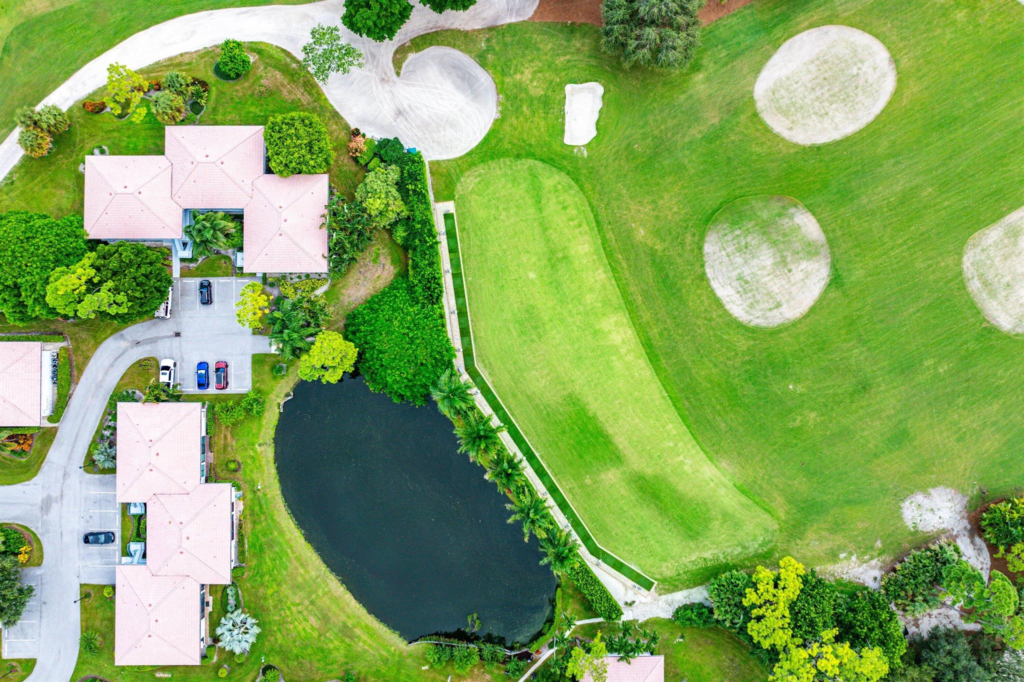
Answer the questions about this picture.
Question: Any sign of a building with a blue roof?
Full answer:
No, the photo shows no building with a blue roof.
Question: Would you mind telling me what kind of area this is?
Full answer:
This looks like a golf course.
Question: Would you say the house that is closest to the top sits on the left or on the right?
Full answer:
You can find the house that is closest to the top on the left side of the picture.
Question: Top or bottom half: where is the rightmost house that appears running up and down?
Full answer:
The rightmost house that appears running up and down is in the bottom half of the image.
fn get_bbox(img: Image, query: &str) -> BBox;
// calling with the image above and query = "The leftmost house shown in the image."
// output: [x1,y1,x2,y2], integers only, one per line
[0,341,53,427]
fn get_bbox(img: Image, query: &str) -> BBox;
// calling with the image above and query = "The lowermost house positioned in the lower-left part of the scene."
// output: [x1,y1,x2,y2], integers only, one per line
[114,402,235,666]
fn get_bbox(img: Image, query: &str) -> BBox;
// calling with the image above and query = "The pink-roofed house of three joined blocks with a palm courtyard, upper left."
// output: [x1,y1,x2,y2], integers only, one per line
[83,125,332,273]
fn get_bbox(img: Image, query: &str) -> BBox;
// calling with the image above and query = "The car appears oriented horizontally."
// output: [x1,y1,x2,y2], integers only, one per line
[85,531,116,545]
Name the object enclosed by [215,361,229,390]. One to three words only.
car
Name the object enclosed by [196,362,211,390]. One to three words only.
car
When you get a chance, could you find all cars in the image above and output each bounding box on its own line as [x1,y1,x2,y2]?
[196,362,211,390]
[160,360,175,389]
[215,361,229,390]
[199,279,213,306]
[156,287,174,319]
[85,531,116,545]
